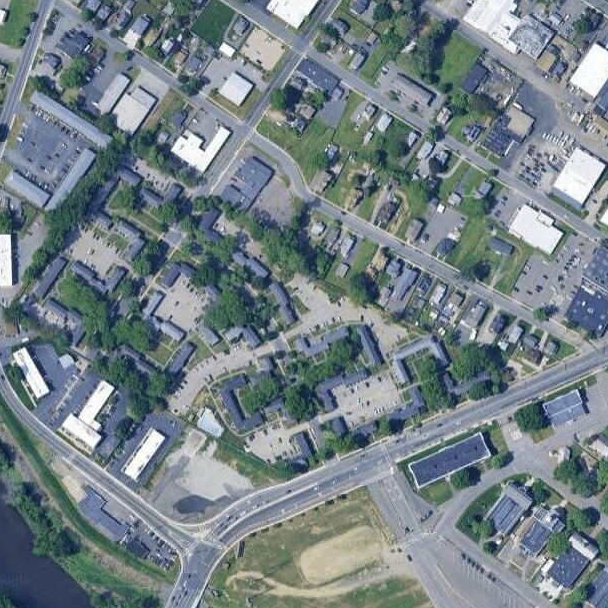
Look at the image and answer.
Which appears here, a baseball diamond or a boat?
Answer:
baseball diamond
